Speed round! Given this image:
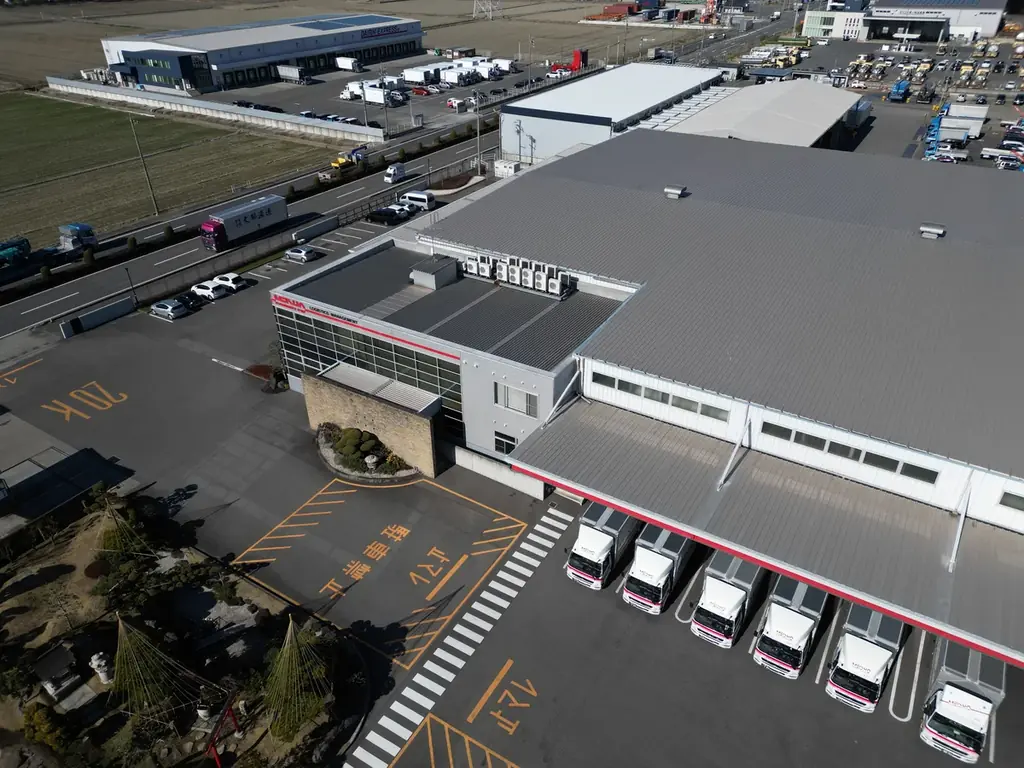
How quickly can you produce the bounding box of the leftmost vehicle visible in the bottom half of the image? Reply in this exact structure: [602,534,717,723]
[563,503,642,590]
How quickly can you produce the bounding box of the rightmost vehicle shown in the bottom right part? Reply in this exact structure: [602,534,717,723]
[922,633,1004,764]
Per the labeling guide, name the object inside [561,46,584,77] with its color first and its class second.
red work vehicle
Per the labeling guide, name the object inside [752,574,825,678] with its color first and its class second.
white truck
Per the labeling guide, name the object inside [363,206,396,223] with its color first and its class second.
black car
